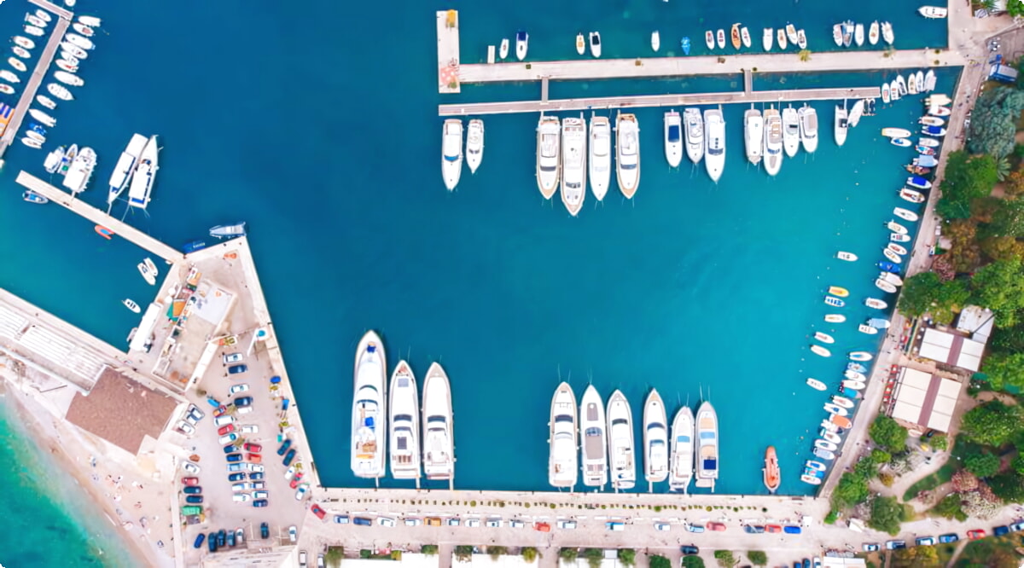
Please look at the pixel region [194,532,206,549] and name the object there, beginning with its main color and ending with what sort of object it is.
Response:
blue vehicle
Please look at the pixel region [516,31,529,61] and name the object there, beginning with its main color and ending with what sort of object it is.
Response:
white boat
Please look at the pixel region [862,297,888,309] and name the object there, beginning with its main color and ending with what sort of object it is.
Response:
white boat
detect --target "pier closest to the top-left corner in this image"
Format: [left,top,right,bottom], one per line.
[35,0,75,22]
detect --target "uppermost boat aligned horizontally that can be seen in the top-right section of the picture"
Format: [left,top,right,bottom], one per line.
[919,5,948,18]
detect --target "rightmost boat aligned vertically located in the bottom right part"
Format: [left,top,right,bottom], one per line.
[762,447,780,495]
